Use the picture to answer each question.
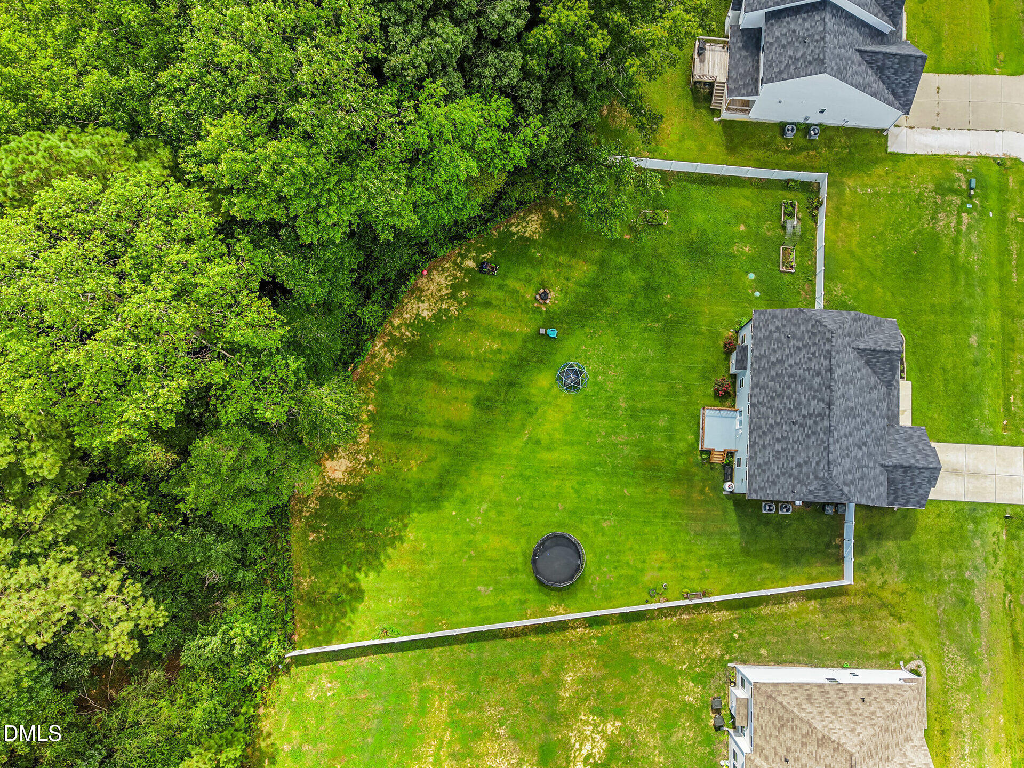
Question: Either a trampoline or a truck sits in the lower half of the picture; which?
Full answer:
What appears in the lower half of the picture is a trampoline.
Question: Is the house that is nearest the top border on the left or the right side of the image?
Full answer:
The house that is nearest the top border sits on the right side.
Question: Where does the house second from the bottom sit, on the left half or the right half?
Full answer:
You can find the house second from the bottom on the right side of the picture.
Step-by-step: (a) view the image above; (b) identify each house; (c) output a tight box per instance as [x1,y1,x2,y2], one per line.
[729,304,943,509]
[722,652,940,768]
[711,0,928,137]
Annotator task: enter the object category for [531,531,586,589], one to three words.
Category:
trampoline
